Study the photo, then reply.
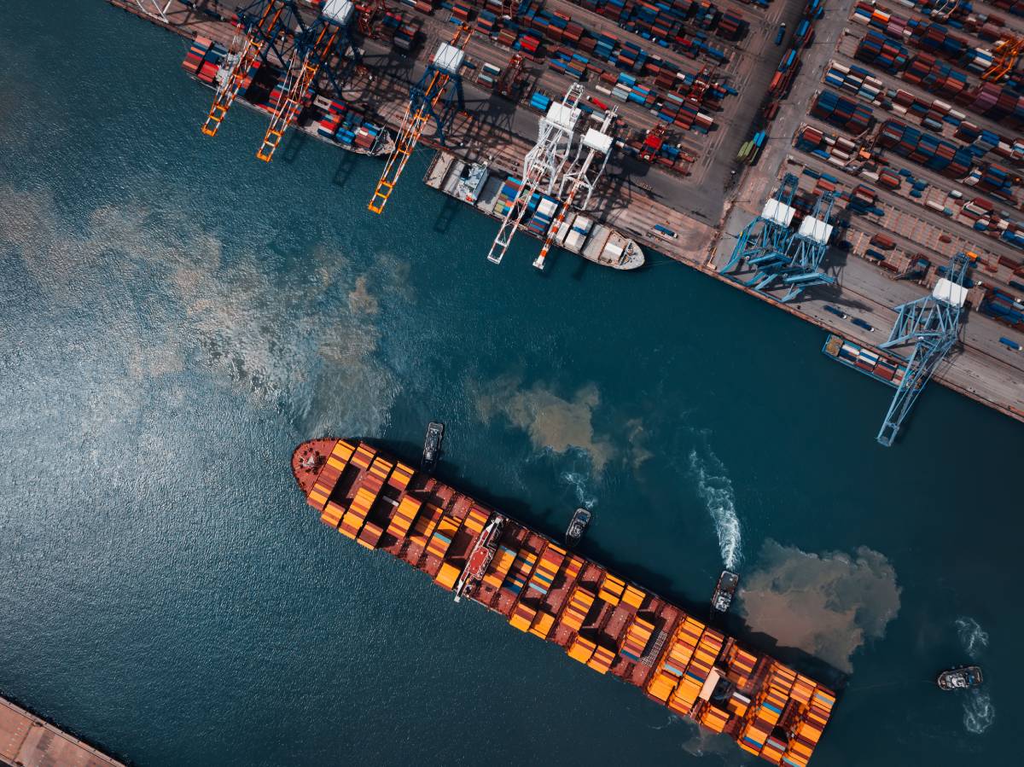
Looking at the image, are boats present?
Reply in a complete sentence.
Yes, there is a boat in the image.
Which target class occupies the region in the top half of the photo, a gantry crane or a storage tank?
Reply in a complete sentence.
Visible in the top half of the photo is a gantry crane.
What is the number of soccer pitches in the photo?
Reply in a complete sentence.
No soccer pitches are visible.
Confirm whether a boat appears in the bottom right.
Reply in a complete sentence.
Yes, you'll find a boat in the bottom right.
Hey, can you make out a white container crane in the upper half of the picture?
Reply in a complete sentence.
Yes, I can see a white container crane in the upper half of the picture.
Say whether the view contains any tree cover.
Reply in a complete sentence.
No, there's no tree cover in this view.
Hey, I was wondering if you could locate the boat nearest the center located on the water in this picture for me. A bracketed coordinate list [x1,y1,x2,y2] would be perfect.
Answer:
[422,421,442,470]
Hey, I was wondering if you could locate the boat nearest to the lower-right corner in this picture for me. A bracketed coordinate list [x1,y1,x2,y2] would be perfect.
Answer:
[938,666,988,692]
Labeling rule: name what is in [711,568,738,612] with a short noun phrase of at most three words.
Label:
boat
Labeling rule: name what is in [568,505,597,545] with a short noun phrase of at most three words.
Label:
boat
